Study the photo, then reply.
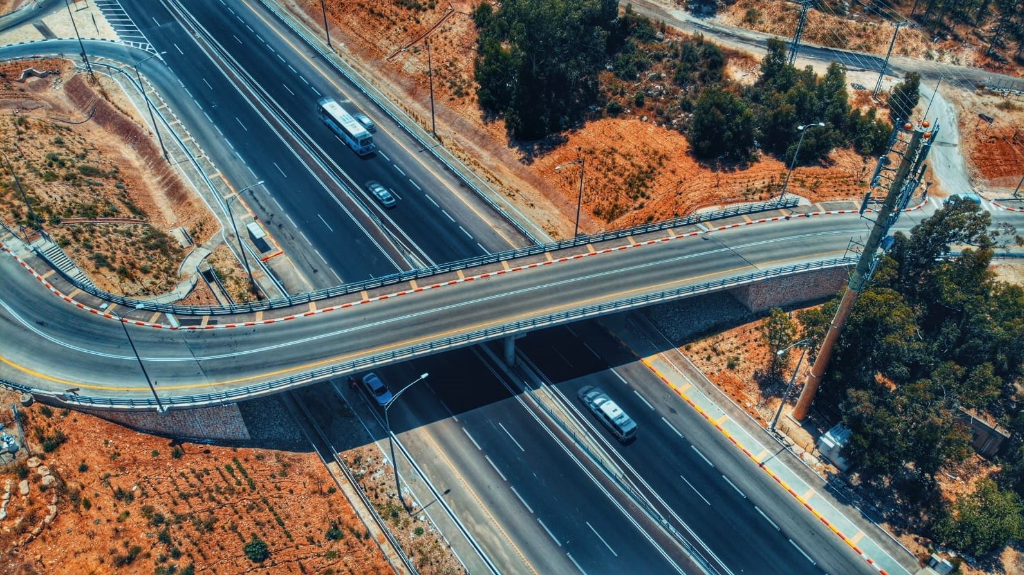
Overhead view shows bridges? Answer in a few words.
Yes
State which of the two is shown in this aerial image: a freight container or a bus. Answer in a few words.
bus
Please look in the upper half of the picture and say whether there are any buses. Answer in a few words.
Yes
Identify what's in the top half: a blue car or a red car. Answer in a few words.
blue car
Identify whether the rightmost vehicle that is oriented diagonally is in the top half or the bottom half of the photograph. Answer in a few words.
bottom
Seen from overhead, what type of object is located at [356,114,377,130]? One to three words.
car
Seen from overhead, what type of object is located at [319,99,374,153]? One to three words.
bus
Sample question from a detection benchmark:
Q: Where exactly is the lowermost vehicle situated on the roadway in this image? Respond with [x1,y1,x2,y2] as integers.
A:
[581,395,634,444]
